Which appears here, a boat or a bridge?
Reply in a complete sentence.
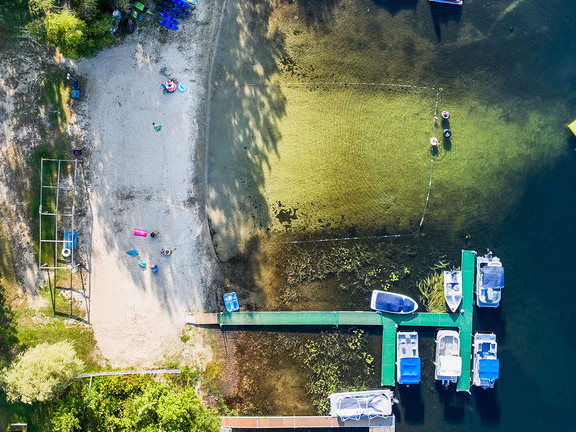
Looking from above, you can make out a boat.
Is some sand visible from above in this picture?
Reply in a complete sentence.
Yes, some sand is visible.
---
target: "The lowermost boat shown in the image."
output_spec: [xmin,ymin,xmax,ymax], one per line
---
[329,388,400,418]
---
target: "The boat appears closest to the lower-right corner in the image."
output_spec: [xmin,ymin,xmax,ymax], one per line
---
[471,332,499,391]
